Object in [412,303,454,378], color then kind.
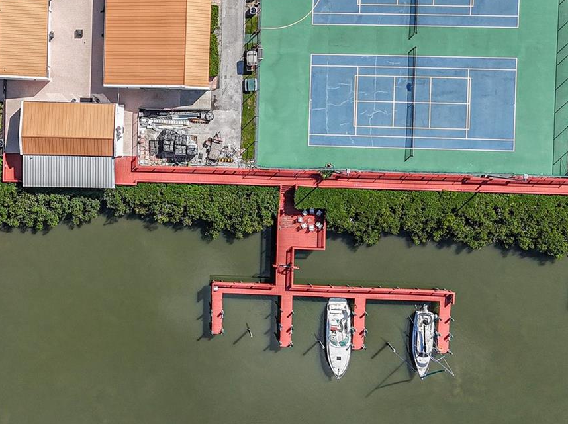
white boat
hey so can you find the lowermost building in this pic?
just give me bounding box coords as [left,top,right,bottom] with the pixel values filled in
[19,100,123,188]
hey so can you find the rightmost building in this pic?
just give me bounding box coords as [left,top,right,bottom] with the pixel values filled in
[102,0,212,91]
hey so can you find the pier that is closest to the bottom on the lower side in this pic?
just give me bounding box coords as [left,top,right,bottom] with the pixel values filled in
[211,187,457,354]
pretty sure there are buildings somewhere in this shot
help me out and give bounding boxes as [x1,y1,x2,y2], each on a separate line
[0,0,50,82]
[19,100,123,188]
[102,0,212,91]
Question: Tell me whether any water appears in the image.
Yes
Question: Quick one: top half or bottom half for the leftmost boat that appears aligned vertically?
bottom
